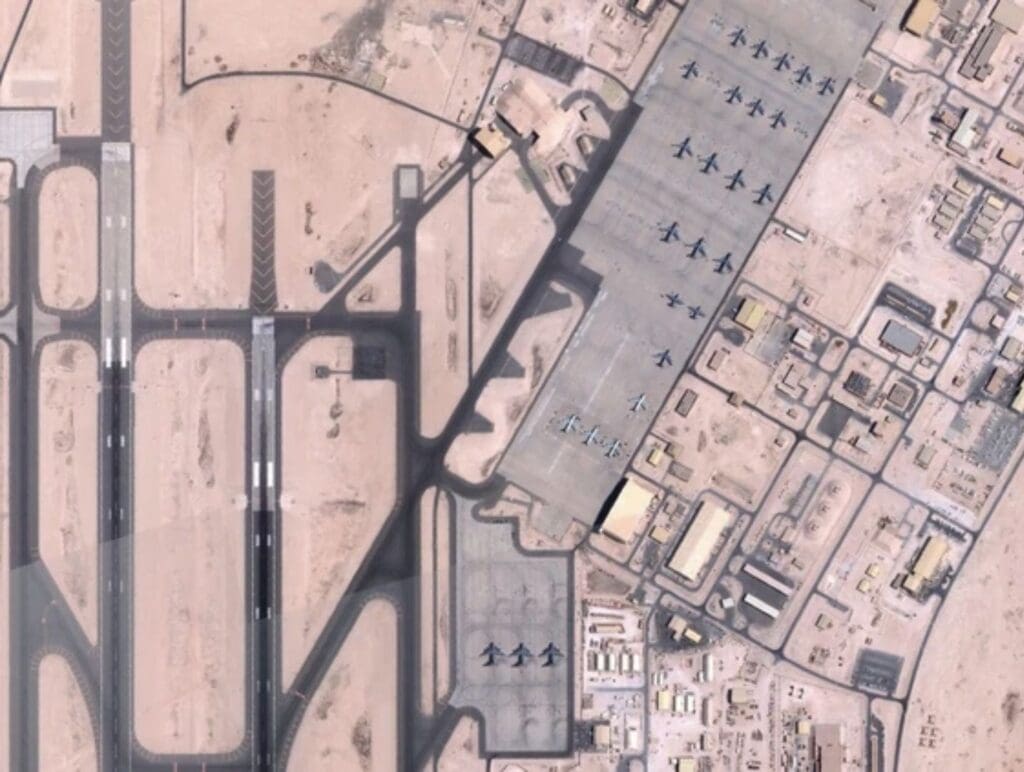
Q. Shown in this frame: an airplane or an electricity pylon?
airplane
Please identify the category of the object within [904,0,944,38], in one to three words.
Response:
hangar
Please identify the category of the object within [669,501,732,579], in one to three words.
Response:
building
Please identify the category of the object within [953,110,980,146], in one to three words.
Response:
building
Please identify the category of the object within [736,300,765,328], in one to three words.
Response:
hangar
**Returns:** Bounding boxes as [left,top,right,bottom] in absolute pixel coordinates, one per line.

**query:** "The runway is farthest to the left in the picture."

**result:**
[98,0,135,772]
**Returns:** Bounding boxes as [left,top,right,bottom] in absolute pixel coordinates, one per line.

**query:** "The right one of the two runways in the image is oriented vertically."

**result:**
[235,170,290,772]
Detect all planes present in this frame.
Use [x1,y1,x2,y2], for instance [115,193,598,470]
[481,642,505,668]
[540,642,565,668]
[674,139,691,158]
[668,293,685,307]
[583,428,599,446]
[818,77,835,96]
[755,185,772,204]
[730,29,746,48]
[662,223,679,242]
[748,99,765,118]
[689,239,706,258]
[716,255,733,273]
[727,171,744,190]
[770,111,787,130]
[682,62,698,80]
[657,351,670,366]
[726,86,743,105]
[511,642,535,668]
[690,305,707,320]
[560,416,576,434]
[752,41,768,60]
[796,66,813,85]
[774,53,791,72]
[629,394,645,413]
[701,154,718,173]
[603,440,620,459]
